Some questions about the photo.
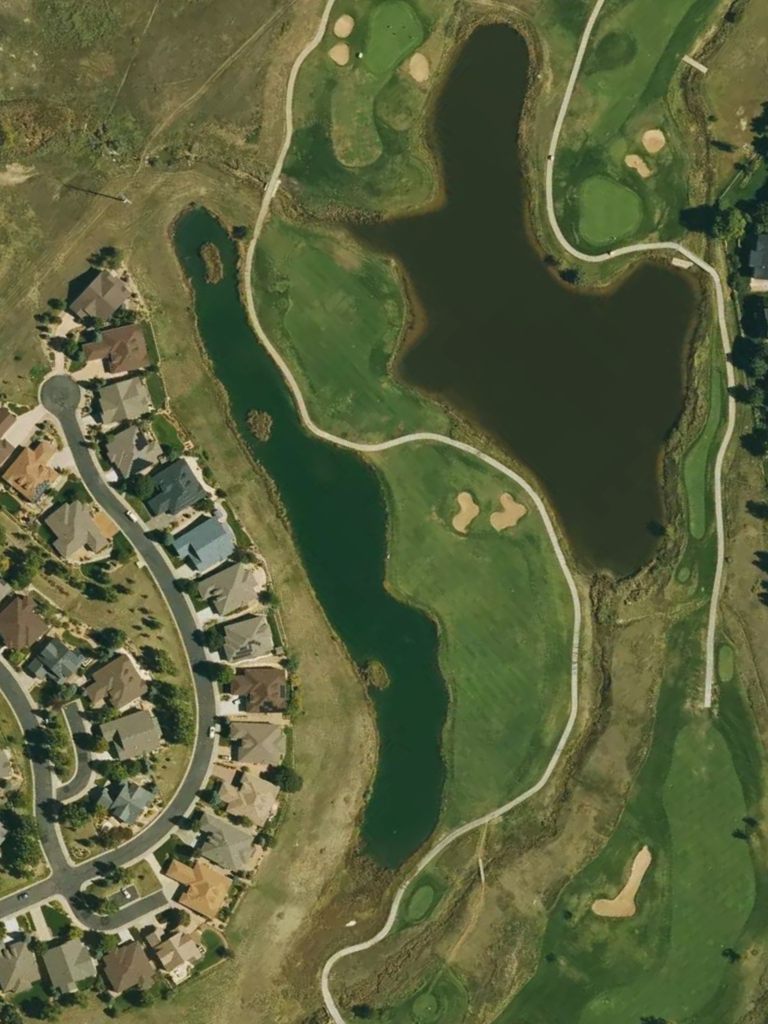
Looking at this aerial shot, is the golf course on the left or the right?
right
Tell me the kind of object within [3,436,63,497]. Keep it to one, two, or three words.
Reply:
house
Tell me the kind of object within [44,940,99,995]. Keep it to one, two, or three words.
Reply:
house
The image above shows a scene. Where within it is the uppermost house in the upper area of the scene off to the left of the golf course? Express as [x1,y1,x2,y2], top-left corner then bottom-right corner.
[71,264,130,323]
